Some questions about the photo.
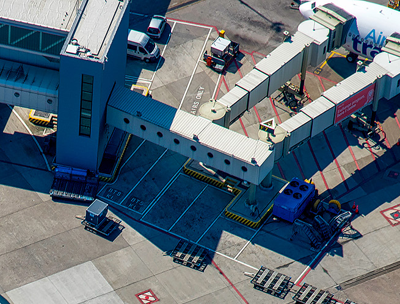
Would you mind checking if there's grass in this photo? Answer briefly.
No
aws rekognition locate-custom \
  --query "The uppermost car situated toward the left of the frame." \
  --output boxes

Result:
[142,13,171,43]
